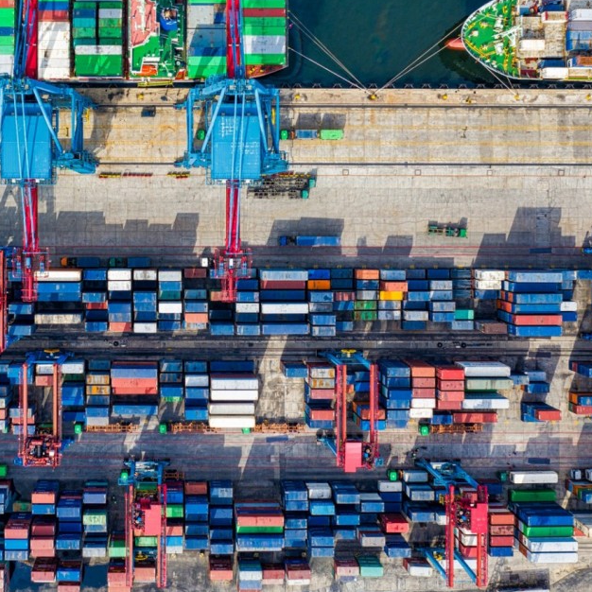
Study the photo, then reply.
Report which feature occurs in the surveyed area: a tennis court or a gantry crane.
gantry crane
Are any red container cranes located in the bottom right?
Yes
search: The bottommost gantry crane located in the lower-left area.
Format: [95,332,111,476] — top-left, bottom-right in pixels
[121,461,170,587]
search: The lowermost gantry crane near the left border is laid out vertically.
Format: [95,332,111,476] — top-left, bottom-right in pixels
[18,351,74,470]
